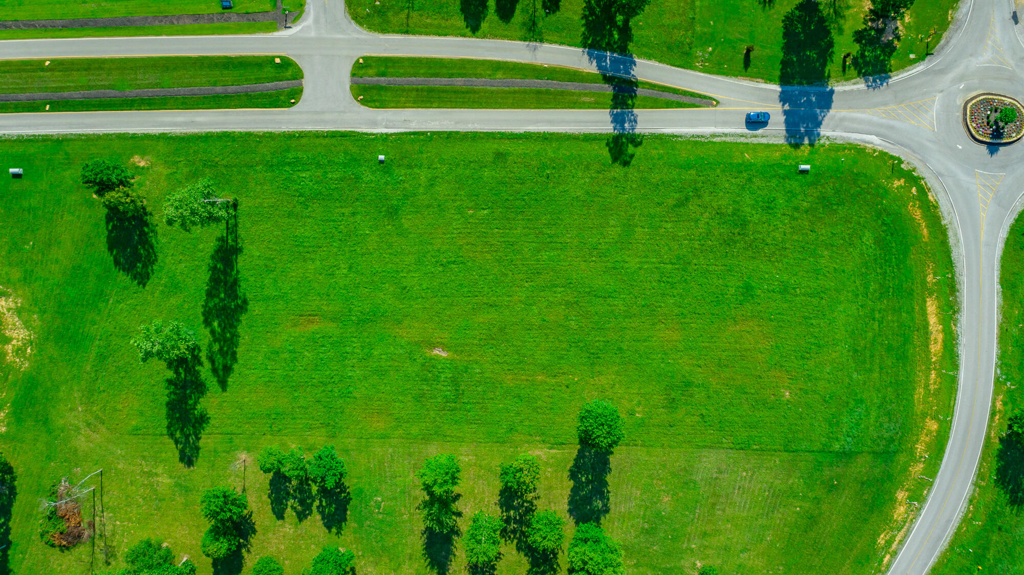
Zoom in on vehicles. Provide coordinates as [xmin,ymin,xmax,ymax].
[221,0,231,10]
[745,112,769,123]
